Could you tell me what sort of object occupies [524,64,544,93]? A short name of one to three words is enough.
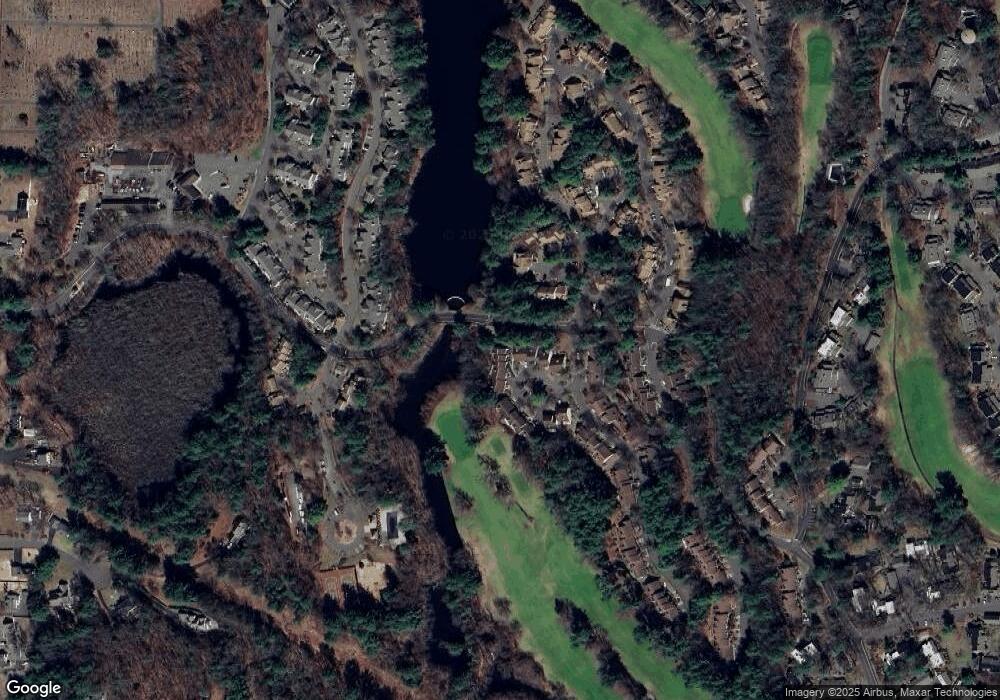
building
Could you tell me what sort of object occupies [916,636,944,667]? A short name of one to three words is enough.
house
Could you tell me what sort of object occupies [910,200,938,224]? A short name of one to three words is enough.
house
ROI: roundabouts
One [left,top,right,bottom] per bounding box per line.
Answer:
[323,505,367,554]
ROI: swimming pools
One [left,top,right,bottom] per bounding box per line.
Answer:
[377,503,406,546]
